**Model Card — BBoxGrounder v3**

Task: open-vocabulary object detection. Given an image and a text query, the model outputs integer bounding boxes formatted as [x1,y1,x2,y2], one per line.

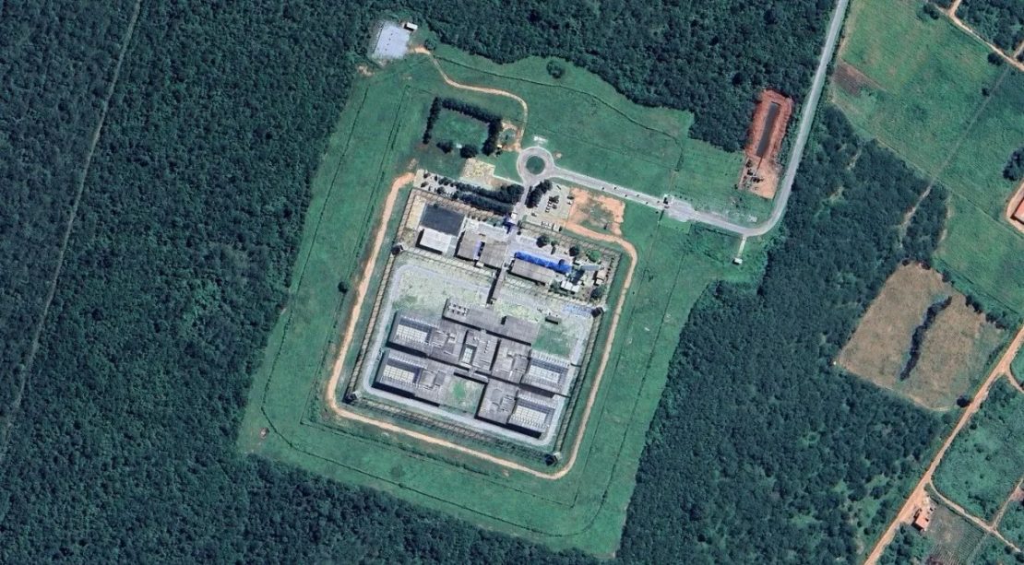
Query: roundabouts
[517,147,554,182]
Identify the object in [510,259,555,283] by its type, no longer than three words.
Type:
building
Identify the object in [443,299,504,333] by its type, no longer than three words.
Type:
building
